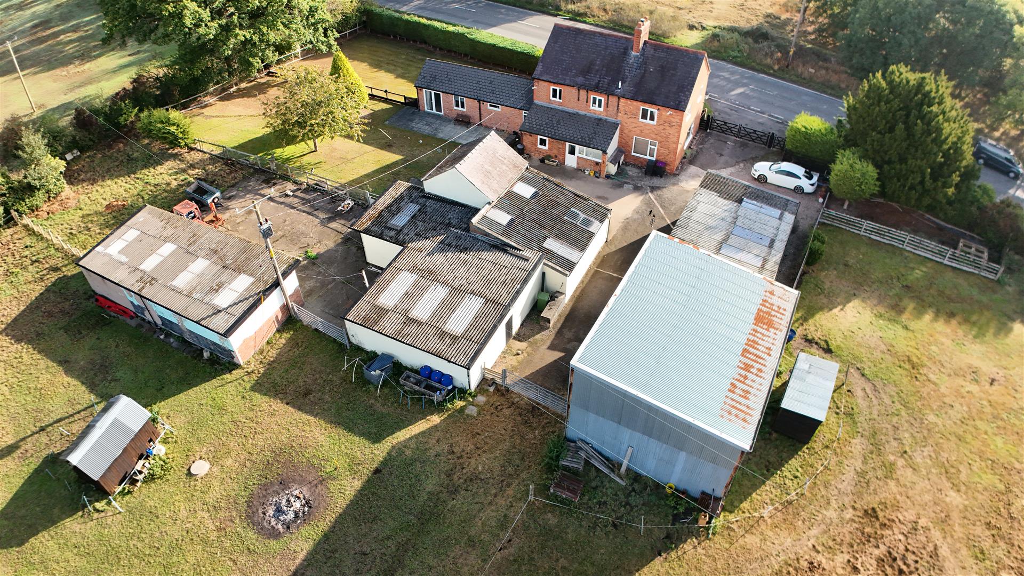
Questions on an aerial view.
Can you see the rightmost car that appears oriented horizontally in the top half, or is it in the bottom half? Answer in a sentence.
The top half of the photo is where the rightmost car that appears oriented horizontally is.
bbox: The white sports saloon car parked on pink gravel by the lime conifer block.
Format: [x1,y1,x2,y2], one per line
[751,162,822,194]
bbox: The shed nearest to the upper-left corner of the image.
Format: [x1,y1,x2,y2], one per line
[69,201,302,364]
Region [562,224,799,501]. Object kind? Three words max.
barn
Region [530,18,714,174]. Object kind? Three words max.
house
